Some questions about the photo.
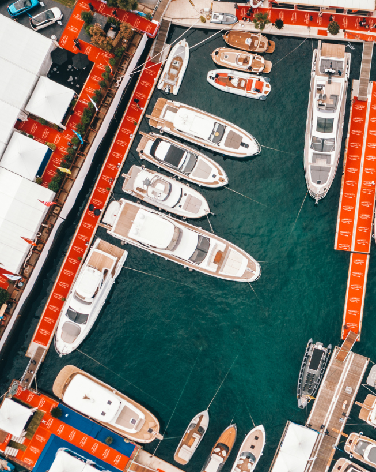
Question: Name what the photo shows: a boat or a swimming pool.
boat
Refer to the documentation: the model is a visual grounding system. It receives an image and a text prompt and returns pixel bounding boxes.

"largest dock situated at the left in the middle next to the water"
[26,42,172,357]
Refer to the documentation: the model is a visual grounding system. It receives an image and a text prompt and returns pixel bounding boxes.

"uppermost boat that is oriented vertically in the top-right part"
[303,42,350,204]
